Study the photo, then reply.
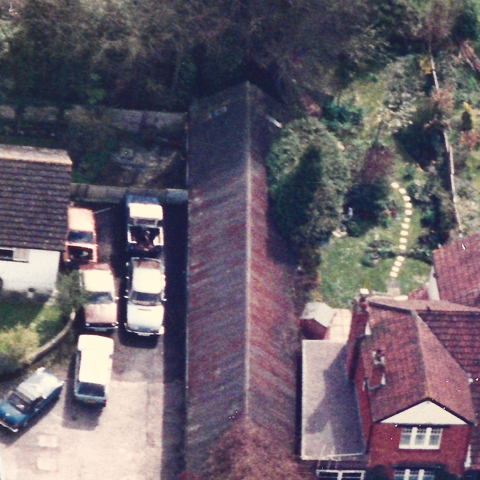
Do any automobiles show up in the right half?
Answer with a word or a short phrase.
No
